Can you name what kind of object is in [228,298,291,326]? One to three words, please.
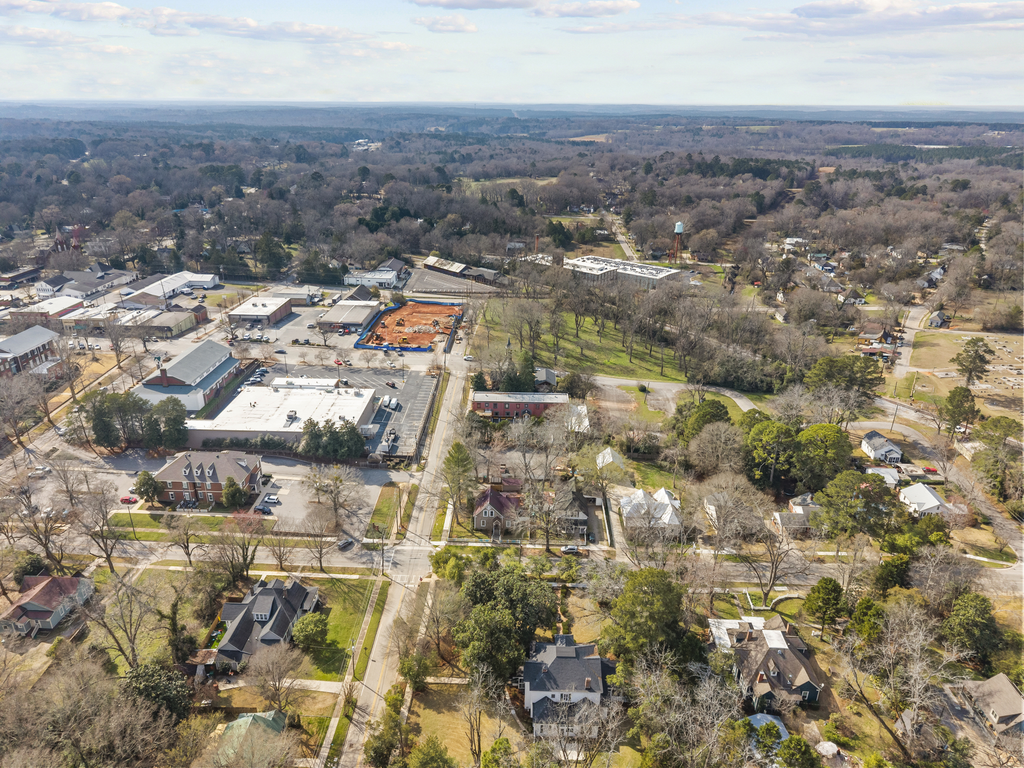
building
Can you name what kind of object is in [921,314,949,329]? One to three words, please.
house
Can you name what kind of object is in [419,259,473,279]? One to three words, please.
building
